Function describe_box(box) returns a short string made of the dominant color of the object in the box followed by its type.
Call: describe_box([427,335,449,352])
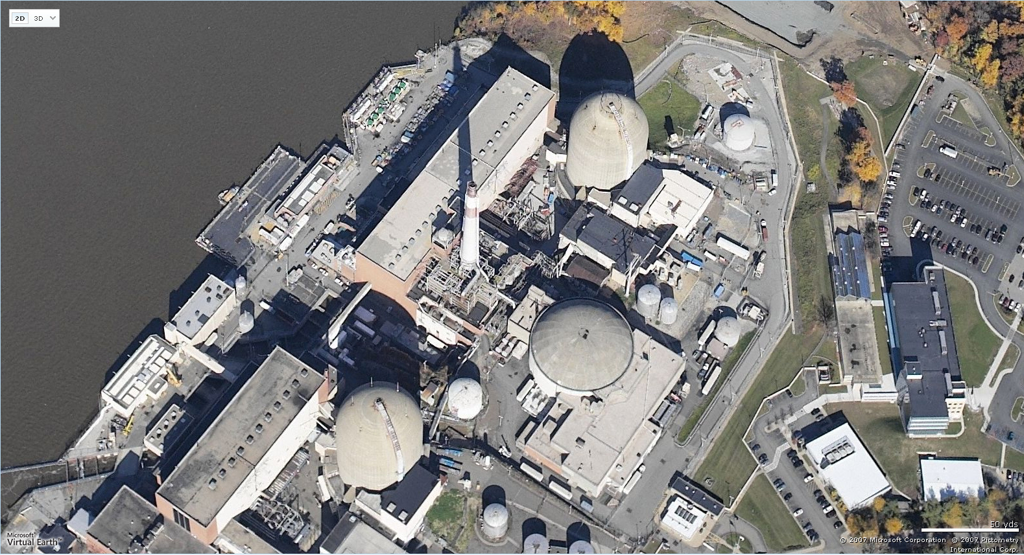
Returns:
white vehicle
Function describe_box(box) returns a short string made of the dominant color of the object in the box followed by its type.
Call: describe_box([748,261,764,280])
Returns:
white vehicle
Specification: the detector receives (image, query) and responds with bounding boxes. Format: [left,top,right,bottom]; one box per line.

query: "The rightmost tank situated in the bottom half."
[713,317,743,350]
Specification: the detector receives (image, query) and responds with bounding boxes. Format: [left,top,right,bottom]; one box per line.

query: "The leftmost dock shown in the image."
[194,143,305,273]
